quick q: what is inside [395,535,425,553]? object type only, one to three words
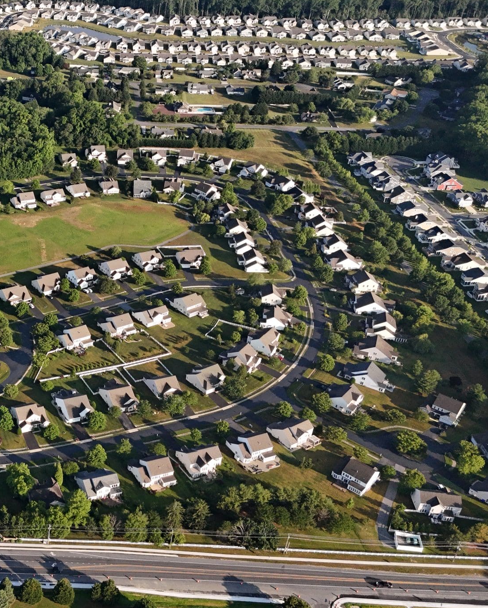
building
